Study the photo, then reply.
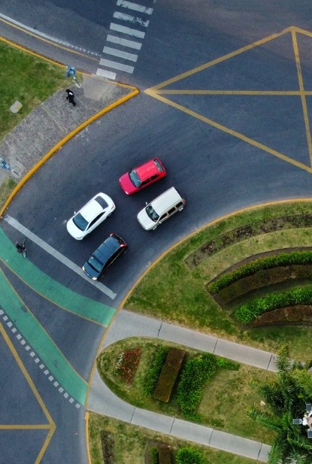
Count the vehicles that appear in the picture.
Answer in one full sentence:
Looking from above, you can make out 4 vehicles.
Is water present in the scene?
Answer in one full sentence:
No, no water is visible.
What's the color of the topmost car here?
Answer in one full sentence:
In this view, the topmost car is red.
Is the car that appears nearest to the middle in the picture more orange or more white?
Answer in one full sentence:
In this view, the car that appears nearest to the middle is white.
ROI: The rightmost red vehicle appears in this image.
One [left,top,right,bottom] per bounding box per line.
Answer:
[115,156,170,197]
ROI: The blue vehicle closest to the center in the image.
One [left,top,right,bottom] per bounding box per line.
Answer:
[81,229,130,283]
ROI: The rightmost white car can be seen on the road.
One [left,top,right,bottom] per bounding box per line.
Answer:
[135,183,188,230]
